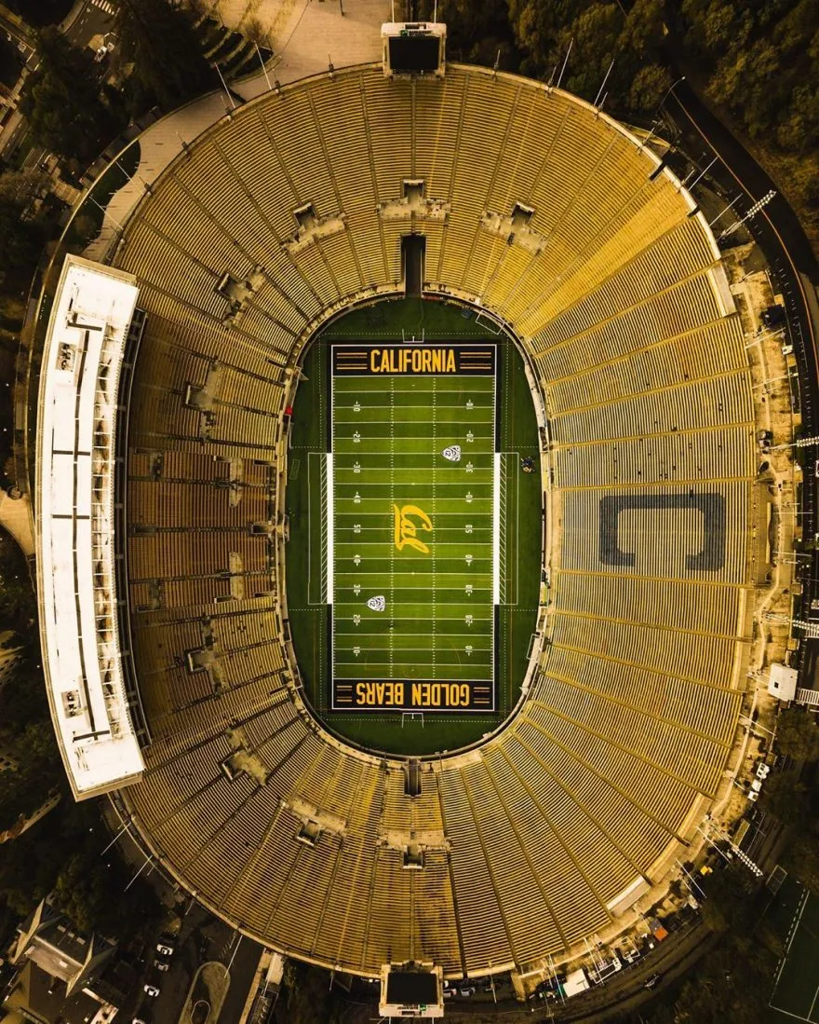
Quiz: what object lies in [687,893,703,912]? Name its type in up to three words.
vehicle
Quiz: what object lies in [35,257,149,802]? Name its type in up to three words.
building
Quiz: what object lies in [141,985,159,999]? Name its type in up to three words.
car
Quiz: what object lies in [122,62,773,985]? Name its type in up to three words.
stadium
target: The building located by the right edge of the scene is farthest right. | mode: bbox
[769,664,807,706]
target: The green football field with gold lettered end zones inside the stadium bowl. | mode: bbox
[283,296,544,756]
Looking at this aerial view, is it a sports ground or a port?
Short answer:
sports ground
